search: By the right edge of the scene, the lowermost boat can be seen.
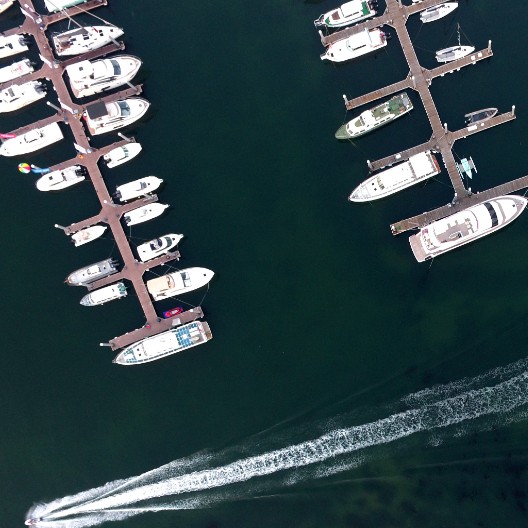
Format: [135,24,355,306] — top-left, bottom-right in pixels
[412,195,528,261]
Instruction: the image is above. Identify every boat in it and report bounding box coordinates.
[71,226,107,246]
[66,259,121,285]
[105,144,143,169]
[421,2,458,24]
[412,195,528,261]
[163,305,183,318]
[463,109,497,126]
[36,167,89,191]
[79,283,131,305]
[336,92,414,137]
[86,98,151,136]
[322,30,388,60]
[0,60,38,81]
[436,31,475,62]
[115,178,163,201]
[46,0,84,12]
[0,81,51,112]
[0,37,33,59]
[138,233,185,262]
[350,153,442,200]
[109,322,213,365]
[0,124,67,156]
[149,268,214,300]
[124,204,170,227]
[24,517,41,524]
[318,1,378,25]
[69,55,143,98]
[48,0,127,57]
